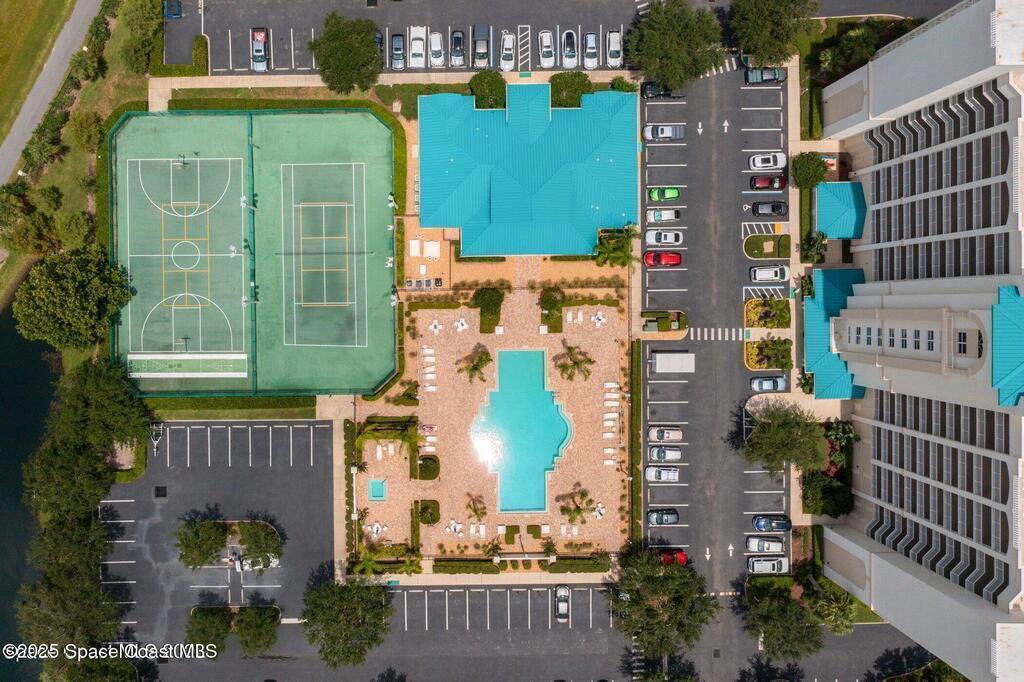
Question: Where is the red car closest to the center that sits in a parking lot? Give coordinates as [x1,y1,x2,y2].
[643,251,681,267]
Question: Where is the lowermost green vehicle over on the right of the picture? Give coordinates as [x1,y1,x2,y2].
[648,186,679,202]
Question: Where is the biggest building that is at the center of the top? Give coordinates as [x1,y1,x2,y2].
[418,83,642,256]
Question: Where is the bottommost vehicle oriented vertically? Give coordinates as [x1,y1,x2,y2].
[555,584,571,622]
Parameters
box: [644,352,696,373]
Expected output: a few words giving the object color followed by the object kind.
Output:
white trailer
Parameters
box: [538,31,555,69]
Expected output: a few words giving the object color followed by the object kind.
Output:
white car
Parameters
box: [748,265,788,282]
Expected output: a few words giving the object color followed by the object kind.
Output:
white car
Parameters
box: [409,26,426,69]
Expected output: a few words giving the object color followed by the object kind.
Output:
white vehicle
